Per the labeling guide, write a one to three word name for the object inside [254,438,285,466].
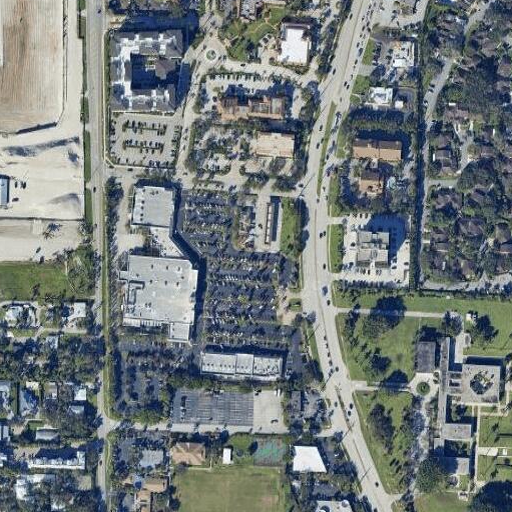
sports court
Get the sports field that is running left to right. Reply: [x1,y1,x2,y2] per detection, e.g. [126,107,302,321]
[176,466,283,512]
